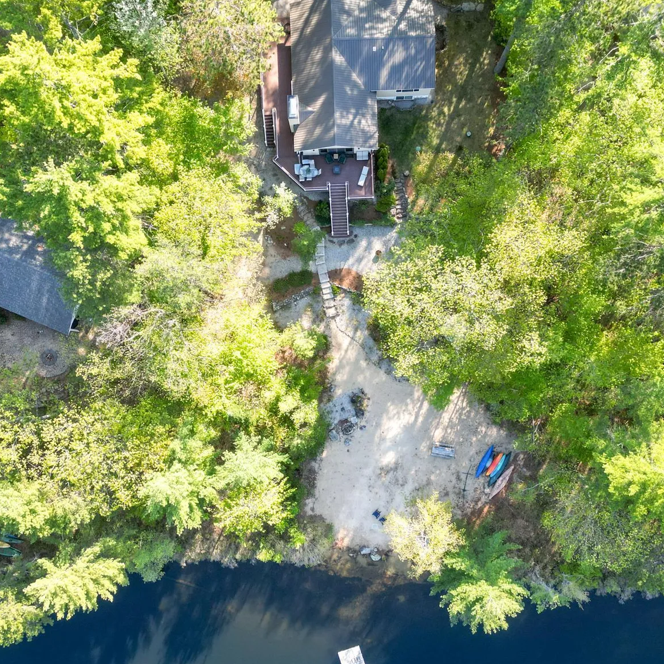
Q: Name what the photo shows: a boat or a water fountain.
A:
boat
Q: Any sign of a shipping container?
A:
No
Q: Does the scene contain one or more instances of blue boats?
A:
Yes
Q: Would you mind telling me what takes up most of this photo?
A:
trees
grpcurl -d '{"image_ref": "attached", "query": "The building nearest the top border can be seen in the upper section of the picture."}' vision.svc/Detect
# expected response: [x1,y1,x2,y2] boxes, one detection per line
[286,0,436,153]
